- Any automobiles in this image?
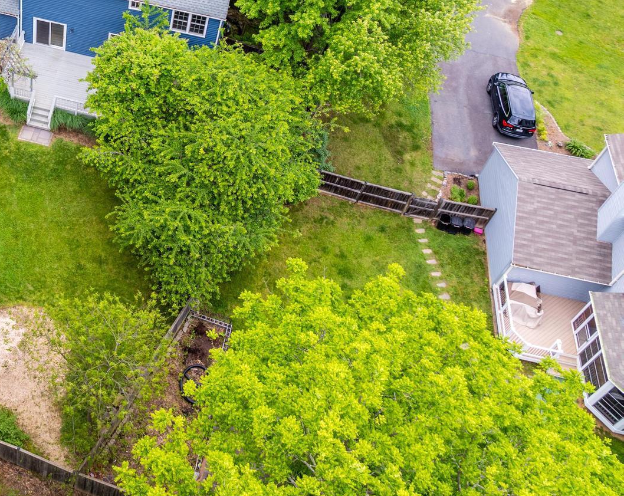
Yes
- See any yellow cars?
No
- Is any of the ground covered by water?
No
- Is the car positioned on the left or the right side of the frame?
right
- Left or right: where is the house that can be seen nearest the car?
right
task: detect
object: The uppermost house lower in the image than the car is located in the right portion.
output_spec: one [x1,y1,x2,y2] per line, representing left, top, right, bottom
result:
[477,133,624,298]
